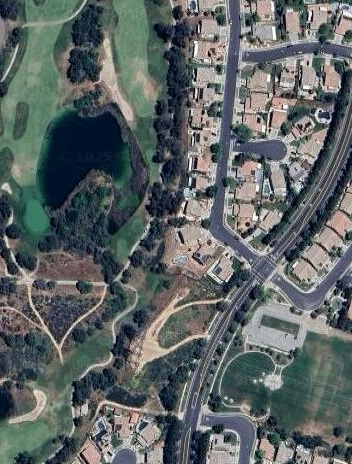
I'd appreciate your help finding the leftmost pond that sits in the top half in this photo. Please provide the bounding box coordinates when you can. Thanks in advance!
[35,108,148,231]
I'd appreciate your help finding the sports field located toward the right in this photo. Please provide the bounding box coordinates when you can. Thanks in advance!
[292,330,352,431]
